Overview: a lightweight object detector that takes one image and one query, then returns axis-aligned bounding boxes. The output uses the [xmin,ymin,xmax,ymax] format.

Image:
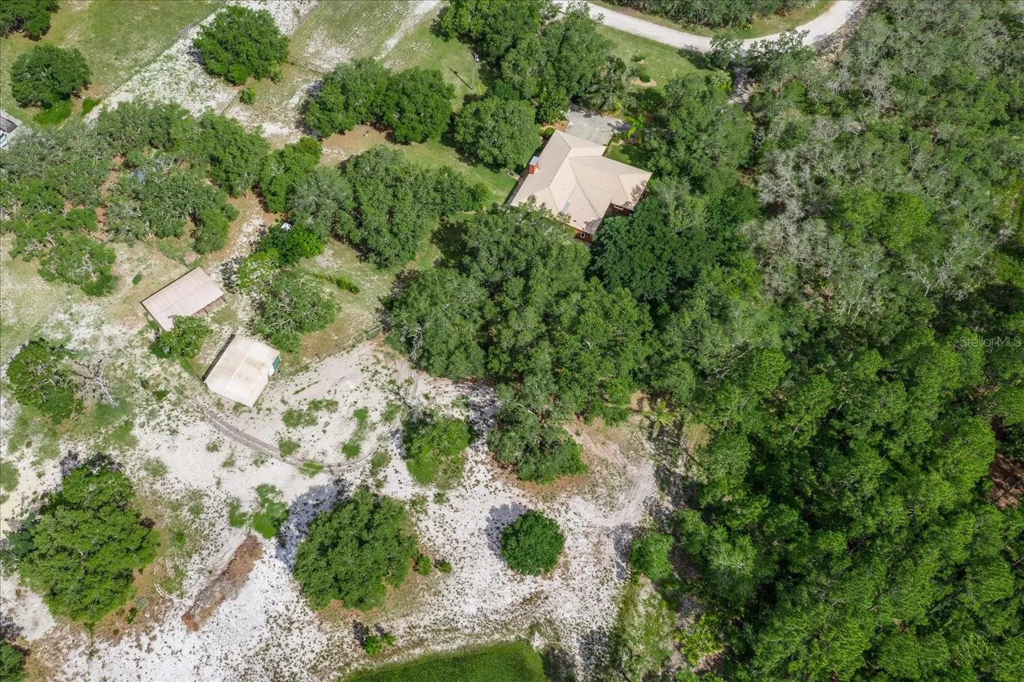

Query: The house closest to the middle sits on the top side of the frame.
[509,129,653,250]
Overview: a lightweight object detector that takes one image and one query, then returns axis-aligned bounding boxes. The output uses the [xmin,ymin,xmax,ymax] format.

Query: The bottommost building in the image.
[205,336,286,408]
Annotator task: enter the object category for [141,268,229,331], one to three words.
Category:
shed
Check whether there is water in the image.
No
